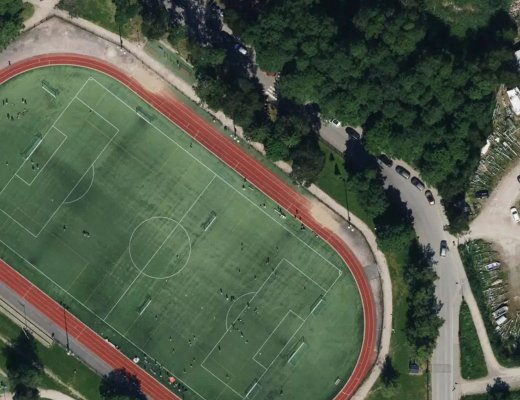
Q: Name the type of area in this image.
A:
sports ground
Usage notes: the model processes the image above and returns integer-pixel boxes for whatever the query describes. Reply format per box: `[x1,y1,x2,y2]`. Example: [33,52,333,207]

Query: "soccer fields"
[0,66,364,400]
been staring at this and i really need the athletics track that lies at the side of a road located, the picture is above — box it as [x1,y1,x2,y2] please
[0,52,378,400]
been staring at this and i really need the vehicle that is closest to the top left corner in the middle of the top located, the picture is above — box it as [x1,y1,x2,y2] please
[233,42,249,56]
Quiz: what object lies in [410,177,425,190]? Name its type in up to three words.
vehicle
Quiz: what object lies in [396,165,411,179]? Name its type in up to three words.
vehicle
